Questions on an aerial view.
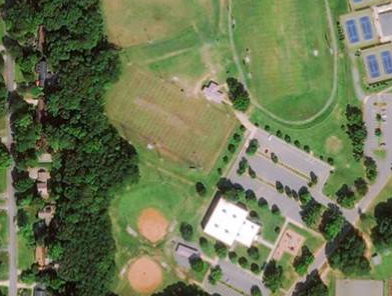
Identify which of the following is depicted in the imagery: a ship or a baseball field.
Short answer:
baseball field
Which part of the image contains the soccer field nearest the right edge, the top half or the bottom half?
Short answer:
top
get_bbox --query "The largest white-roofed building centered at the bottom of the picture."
[203,198,263,247]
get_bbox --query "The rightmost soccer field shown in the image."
[231,0,334,120]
